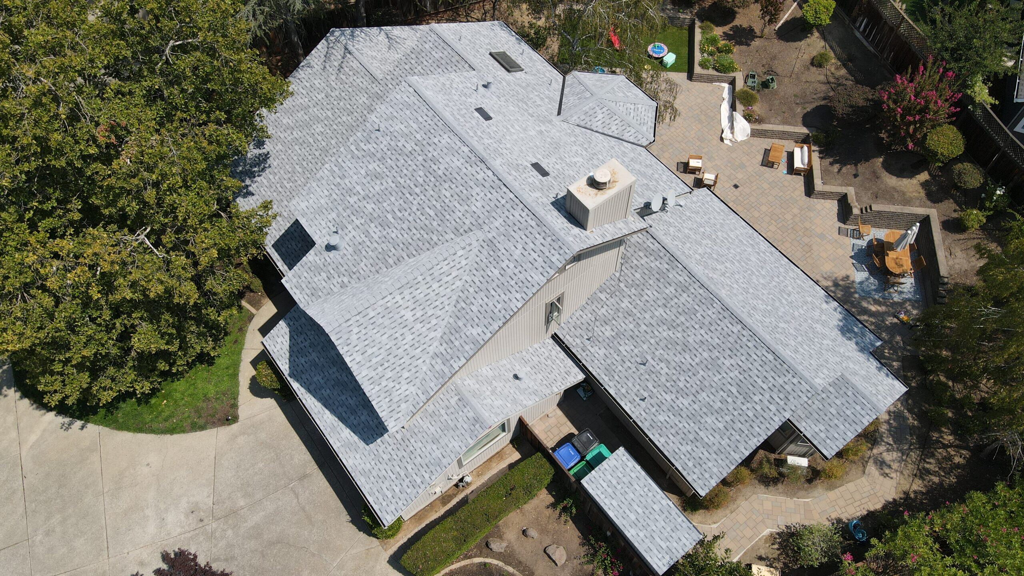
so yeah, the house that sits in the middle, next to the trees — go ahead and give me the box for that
[215,21,910,530]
